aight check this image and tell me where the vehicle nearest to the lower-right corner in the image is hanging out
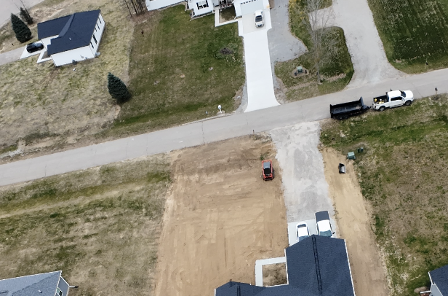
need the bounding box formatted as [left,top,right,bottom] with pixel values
[315,209,335,237]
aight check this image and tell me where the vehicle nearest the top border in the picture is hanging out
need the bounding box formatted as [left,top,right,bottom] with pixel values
[251,7,265,26]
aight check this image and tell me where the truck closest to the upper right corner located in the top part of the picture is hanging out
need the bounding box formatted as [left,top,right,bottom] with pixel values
[370,89,415,112]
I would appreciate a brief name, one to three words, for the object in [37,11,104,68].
house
